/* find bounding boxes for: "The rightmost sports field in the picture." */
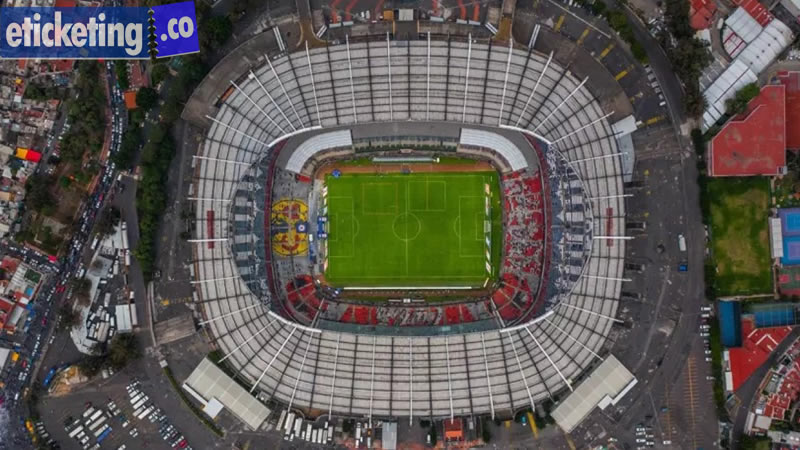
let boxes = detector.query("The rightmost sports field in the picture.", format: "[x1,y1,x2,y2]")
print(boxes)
[706,177,773,298]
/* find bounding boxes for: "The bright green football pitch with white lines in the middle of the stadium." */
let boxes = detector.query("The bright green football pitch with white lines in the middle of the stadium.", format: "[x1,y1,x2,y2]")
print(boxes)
[326,173,501,288]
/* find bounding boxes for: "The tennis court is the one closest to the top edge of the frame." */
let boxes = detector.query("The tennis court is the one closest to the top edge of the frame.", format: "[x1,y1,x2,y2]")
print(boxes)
[778,208,800,236]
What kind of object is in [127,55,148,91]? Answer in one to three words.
building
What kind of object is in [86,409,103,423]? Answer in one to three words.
vehicle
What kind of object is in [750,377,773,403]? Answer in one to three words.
shed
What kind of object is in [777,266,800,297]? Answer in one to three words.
basketball court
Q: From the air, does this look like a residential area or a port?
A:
residential area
